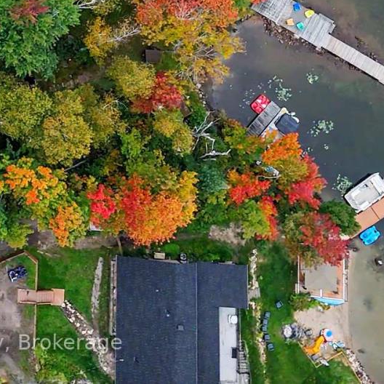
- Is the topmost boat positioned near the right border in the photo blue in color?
No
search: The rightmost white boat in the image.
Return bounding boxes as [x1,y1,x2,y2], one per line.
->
[344,173,384,211]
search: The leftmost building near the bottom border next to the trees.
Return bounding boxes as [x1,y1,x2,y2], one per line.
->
[114,254,249,384]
